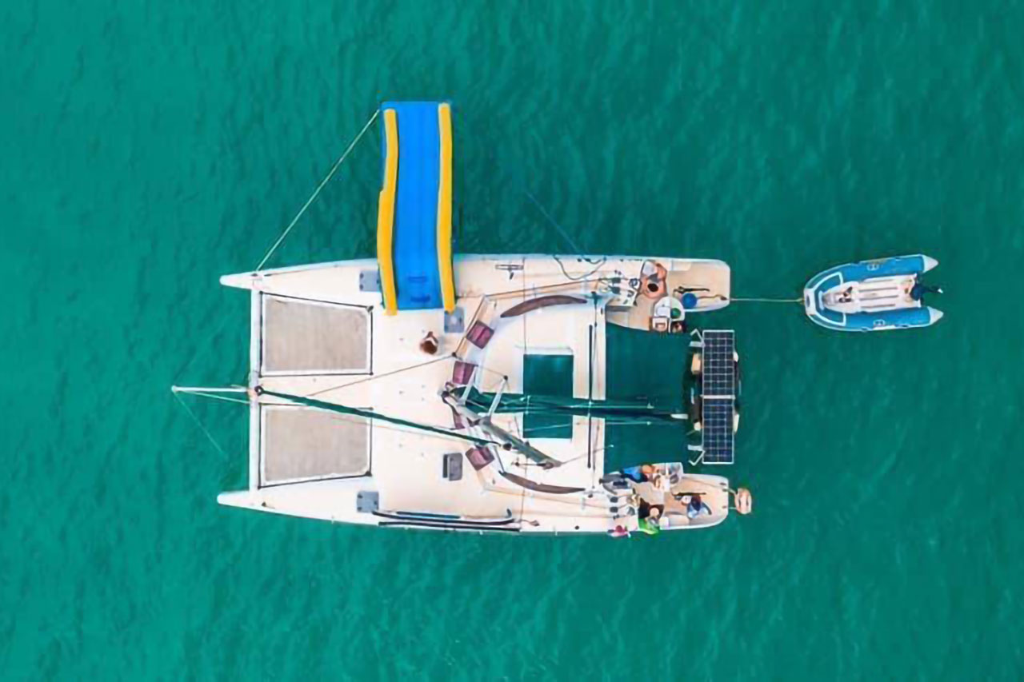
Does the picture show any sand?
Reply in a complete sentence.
No, sand can't be seen anywhere here.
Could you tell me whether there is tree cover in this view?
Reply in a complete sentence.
No, tree cover can't be seen anywhere here.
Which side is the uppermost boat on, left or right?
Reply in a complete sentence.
The uppermost boat is on the right side of the image.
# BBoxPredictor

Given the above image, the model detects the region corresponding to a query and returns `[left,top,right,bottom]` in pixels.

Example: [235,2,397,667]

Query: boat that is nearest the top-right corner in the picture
[804,255,944,333]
